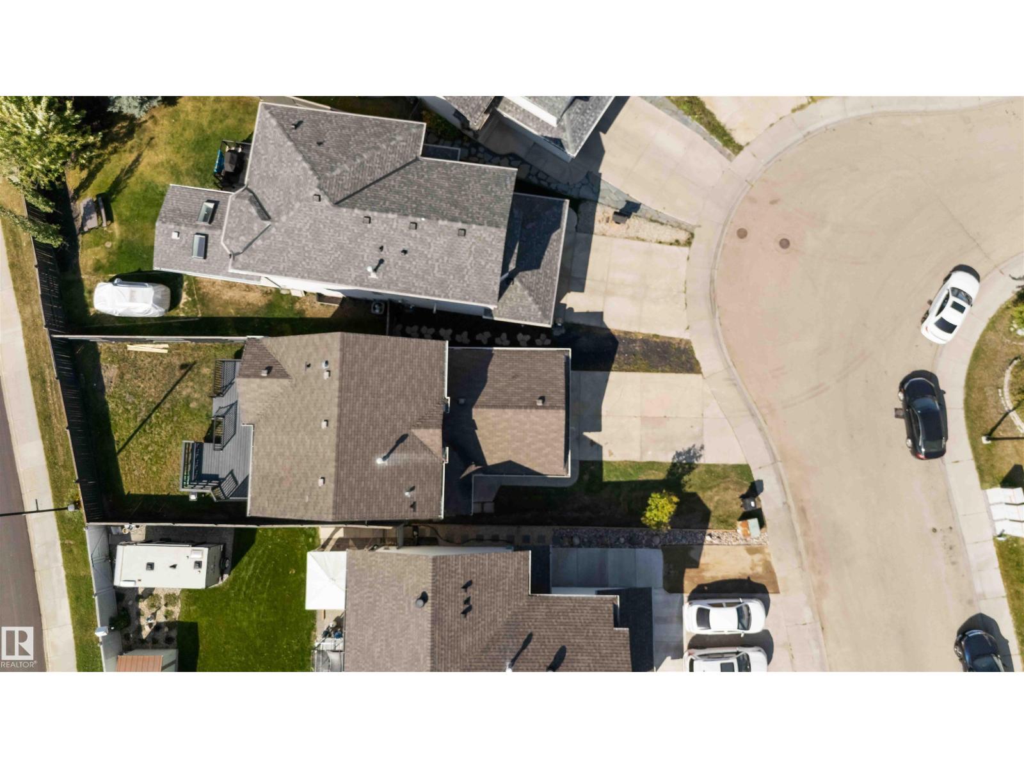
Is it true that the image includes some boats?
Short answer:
No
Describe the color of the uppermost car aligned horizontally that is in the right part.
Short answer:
white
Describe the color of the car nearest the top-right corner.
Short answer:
white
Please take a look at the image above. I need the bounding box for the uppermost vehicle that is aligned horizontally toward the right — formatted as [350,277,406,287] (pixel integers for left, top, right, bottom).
[681,597,766,639]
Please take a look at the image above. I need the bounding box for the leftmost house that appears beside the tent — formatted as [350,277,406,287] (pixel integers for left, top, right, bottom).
[238,332,451,521]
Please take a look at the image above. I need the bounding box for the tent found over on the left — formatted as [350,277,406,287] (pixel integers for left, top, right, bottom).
[305,547,355,609]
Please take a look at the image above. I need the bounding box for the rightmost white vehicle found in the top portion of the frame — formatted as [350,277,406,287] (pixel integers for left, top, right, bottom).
[918,270,976,344]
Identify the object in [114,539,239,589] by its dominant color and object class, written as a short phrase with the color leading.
white trailer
